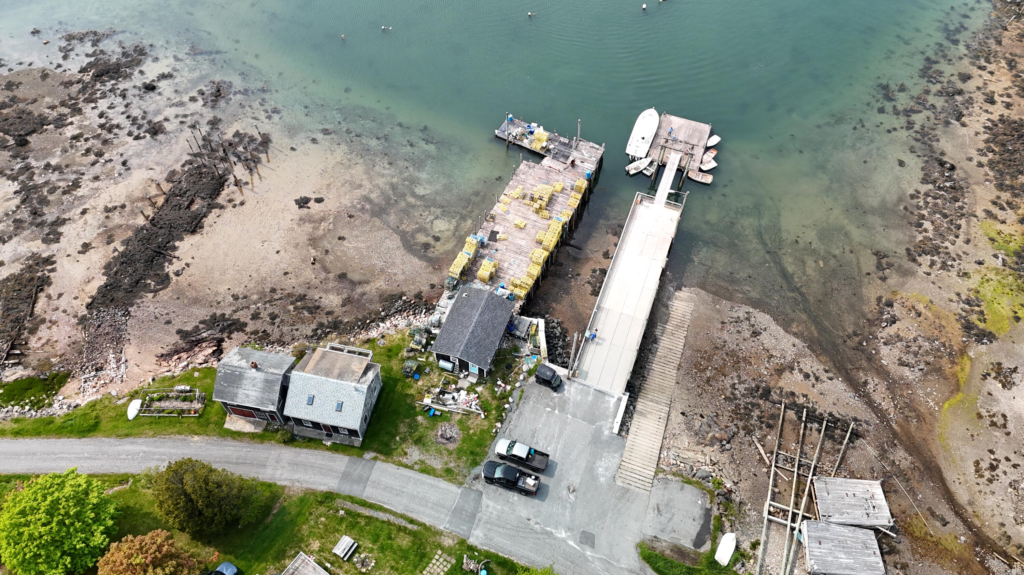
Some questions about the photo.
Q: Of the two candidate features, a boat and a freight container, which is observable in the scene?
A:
boat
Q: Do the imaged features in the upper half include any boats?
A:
Yes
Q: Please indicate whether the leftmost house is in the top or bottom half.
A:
bottom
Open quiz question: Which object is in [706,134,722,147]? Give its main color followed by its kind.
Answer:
white boat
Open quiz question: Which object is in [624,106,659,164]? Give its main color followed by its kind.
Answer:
white boat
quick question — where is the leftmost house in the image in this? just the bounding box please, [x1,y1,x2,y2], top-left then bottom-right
[214,346,299,425]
